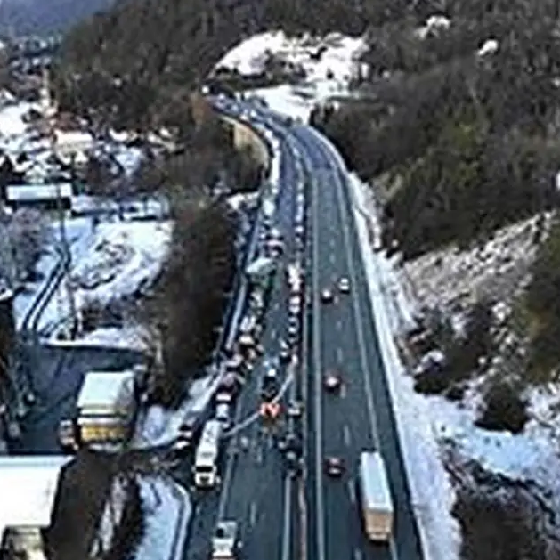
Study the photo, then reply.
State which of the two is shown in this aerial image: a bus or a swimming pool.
bus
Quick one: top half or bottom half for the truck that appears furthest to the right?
bottom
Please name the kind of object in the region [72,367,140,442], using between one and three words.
building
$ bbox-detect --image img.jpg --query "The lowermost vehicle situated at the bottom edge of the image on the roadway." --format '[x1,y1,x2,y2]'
[210,528,240,560]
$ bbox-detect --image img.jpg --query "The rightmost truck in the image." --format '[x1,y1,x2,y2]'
[358,451,394,539]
